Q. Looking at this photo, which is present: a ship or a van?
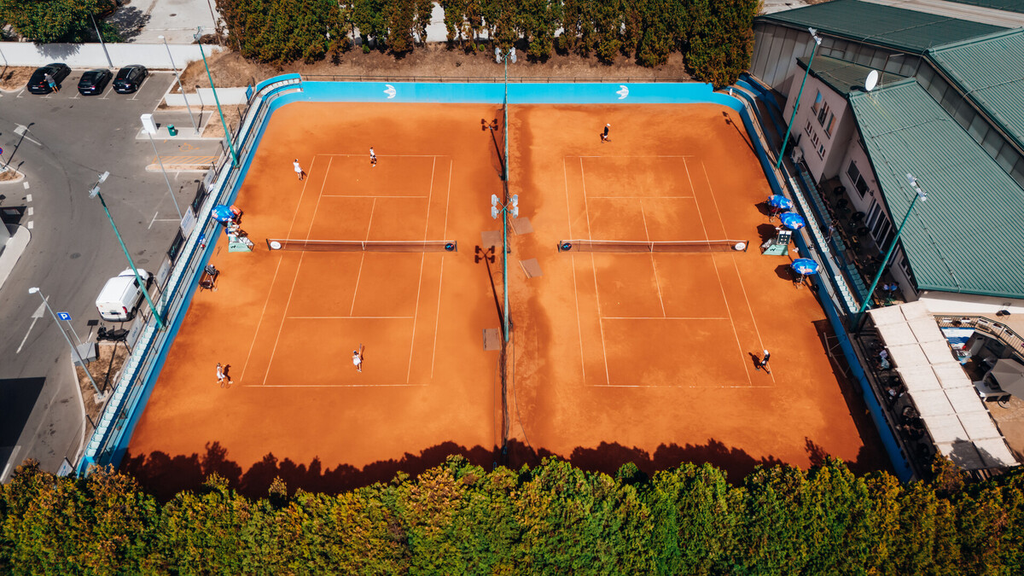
van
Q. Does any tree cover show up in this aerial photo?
Yes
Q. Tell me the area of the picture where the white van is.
left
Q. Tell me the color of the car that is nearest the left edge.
black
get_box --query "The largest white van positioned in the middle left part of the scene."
[94,259,154,313]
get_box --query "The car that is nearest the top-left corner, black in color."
[25,63,68,92]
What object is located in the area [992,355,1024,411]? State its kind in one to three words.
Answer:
umbrella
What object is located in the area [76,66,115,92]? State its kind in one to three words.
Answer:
car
